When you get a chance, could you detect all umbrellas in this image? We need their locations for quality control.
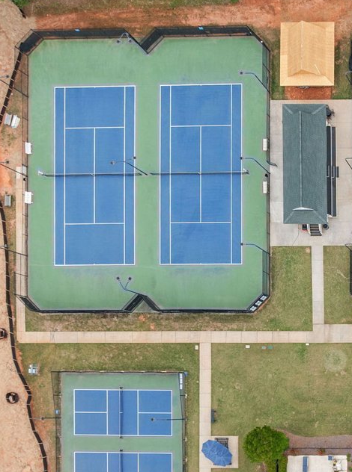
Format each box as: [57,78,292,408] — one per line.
[201,438,234,470]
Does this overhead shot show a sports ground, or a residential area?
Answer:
sports ground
